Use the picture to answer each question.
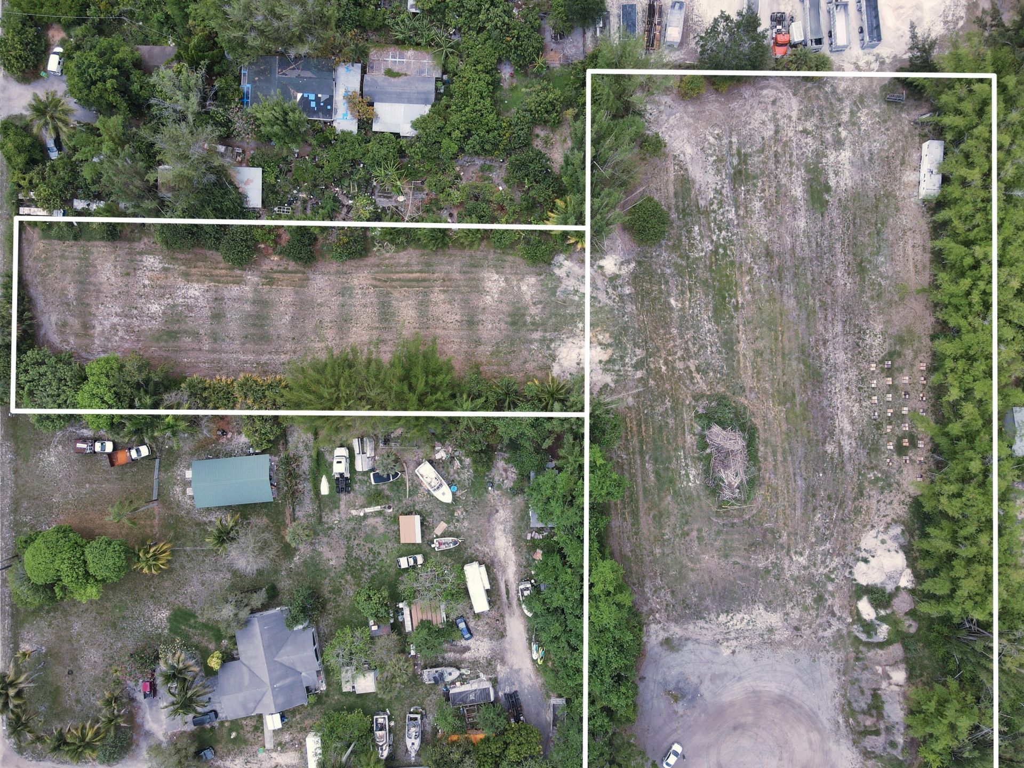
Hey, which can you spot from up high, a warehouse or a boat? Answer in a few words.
boat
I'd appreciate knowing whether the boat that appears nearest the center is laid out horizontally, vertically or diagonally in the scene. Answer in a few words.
diagonally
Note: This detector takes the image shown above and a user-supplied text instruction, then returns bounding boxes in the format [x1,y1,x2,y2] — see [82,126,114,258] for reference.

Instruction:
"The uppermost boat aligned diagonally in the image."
[415,461,454,505]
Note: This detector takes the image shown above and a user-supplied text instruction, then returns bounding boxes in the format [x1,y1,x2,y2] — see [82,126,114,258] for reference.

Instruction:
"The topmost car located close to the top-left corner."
[46,47,66,78]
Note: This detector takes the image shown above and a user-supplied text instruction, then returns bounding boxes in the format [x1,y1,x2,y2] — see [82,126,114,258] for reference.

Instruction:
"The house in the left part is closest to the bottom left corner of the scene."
[218,607,327,719]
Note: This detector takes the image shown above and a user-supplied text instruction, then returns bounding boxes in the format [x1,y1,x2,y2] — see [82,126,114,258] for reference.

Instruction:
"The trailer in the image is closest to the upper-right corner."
[859,0,883,48]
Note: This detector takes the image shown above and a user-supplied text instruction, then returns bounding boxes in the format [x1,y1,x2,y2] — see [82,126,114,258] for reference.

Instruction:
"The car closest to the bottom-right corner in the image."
[659,740,681,768]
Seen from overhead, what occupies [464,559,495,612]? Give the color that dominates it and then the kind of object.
white vehicle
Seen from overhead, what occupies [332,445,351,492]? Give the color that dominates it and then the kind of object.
white vehicle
